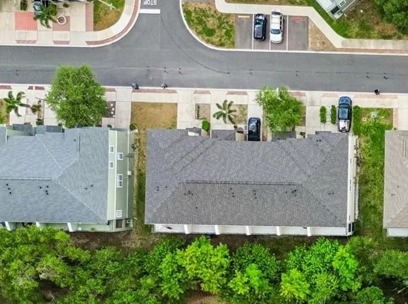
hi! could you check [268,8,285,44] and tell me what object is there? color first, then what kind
white car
